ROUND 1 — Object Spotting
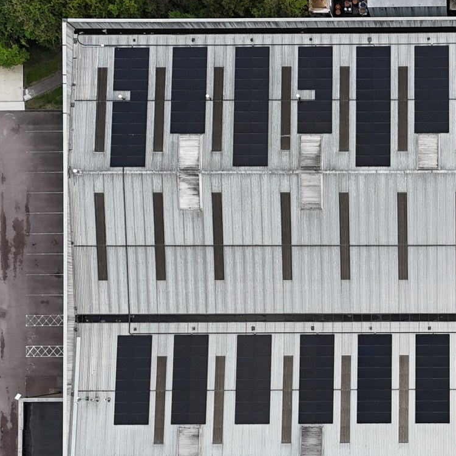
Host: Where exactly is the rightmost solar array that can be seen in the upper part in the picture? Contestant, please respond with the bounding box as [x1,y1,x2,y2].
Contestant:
[414,45,448,133]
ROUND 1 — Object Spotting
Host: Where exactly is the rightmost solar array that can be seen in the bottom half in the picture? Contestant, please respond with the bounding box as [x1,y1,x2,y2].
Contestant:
[415,334,449,423]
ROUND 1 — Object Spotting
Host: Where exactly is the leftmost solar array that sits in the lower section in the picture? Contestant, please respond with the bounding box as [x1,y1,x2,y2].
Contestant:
[115,335,152,424]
